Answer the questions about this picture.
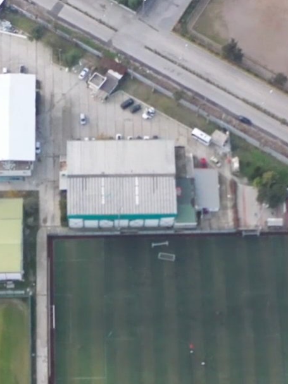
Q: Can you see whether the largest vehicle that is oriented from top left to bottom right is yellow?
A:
No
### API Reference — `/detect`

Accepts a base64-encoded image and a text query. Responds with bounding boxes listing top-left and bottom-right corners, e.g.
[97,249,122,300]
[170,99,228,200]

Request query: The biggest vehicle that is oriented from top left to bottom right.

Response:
[188,124,212,145]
